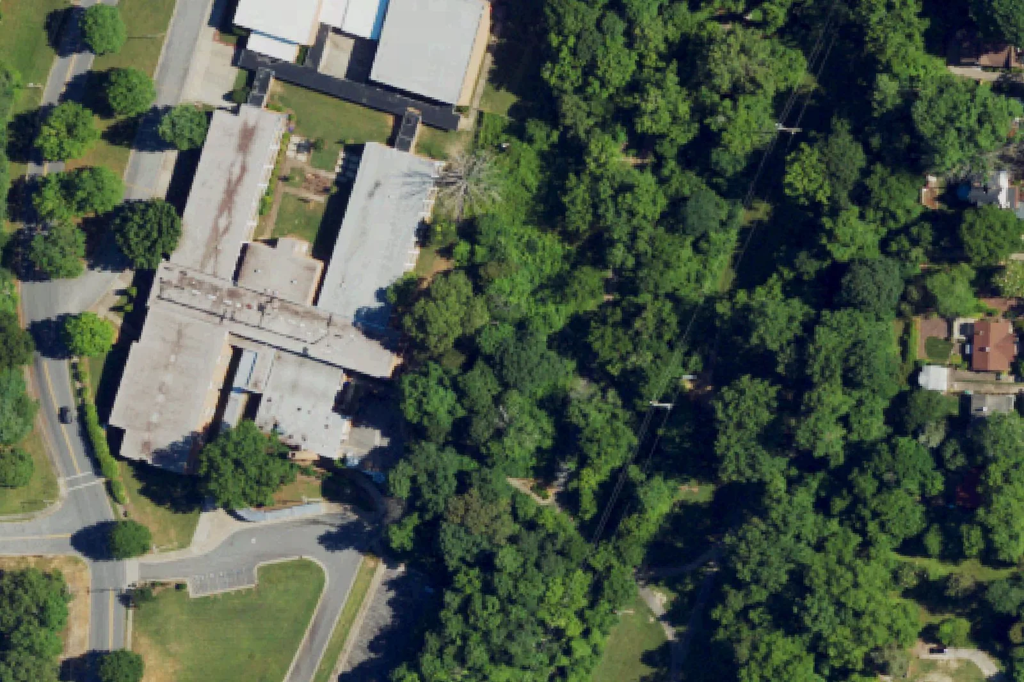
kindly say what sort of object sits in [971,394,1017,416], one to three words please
house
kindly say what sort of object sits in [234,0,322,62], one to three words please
building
